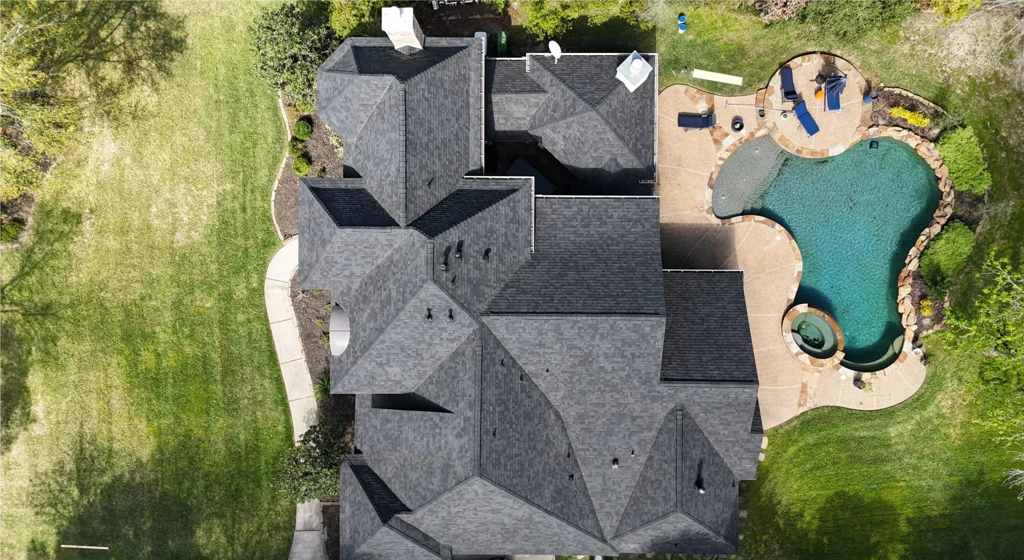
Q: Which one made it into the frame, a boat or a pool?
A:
pool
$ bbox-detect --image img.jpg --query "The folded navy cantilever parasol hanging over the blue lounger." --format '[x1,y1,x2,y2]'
[810,64,848,96]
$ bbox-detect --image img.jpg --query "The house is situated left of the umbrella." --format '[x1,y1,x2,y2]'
[296,4,763,560]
